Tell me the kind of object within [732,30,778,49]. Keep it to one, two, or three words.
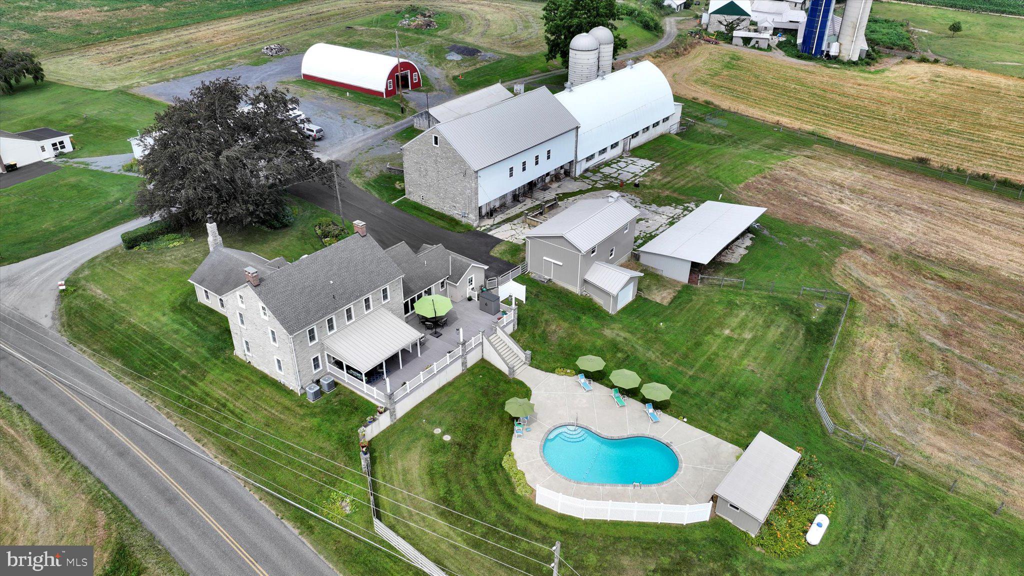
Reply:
shed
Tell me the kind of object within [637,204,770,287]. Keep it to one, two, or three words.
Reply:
shed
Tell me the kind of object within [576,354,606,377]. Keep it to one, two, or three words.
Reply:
umbrella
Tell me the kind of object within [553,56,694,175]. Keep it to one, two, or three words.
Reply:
barn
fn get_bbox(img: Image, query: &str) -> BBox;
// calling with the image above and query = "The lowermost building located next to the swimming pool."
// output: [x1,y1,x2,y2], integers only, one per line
[714,433,804,536]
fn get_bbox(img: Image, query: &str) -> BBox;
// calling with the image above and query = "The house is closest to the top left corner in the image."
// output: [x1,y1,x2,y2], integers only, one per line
[0,112,73,174]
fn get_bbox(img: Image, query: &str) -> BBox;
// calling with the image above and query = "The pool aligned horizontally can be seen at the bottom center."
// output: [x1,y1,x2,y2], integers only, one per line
[540,421,682,486]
